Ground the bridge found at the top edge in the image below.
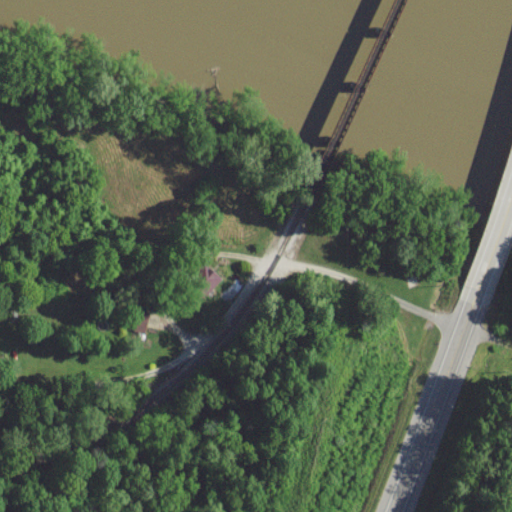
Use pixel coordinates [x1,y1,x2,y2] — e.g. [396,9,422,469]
[321,0,408,168]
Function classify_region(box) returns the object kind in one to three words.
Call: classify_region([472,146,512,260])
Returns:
bridge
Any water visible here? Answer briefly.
Yes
